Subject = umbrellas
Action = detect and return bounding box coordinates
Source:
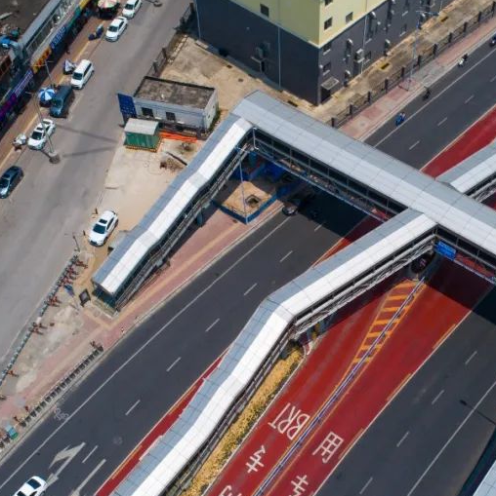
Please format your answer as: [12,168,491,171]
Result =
[38,91,58,110]
[97,0,120,19]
